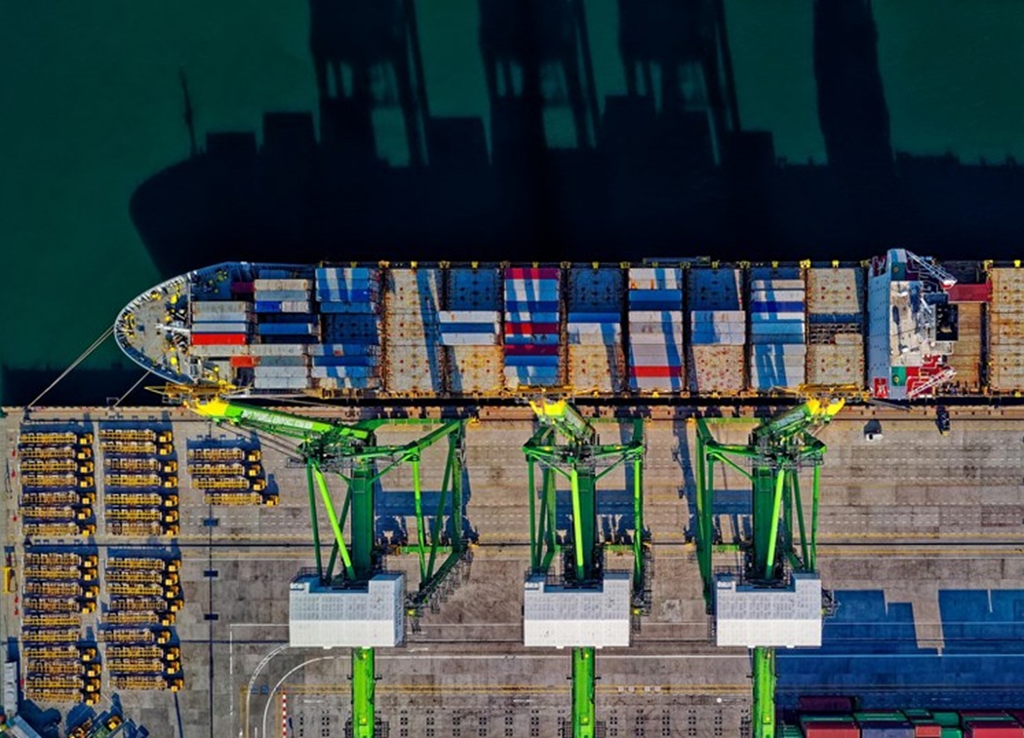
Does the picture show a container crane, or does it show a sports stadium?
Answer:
container crane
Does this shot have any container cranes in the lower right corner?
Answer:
Yes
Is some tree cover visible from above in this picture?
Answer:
No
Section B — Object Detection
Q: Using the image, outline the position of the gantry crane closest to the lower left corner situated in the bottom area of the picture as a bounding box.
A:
[148,380,489,738]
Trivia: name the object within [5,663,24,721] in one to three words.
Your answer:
trailer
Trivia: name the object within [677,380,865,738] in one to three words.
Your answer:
container crane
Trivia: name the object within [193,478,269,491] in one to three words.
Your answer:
vehicle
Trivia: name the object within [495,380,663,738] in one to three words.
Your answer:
container crane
